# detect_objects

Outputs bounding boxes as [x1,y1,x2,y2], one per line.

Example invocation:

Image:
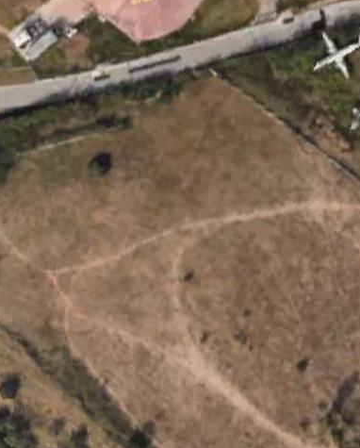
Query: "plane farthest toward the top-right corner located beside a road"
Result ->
[314,32,360,77]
